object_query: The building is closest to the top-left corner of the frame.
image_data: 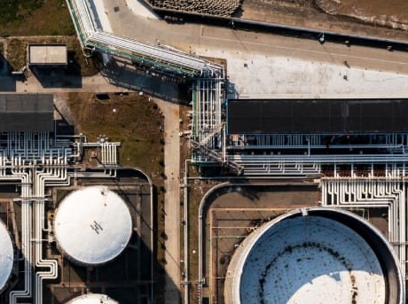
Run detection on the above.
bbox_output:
[28,43,68,70]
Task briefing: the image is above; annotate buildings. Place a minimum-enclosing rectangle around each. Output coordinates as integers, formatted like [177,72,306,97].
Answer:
[28,43,68,70]
[222,98,408,138]
[0,93,55,135]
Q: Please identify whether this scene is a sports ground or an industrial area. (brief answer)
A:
industrial area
